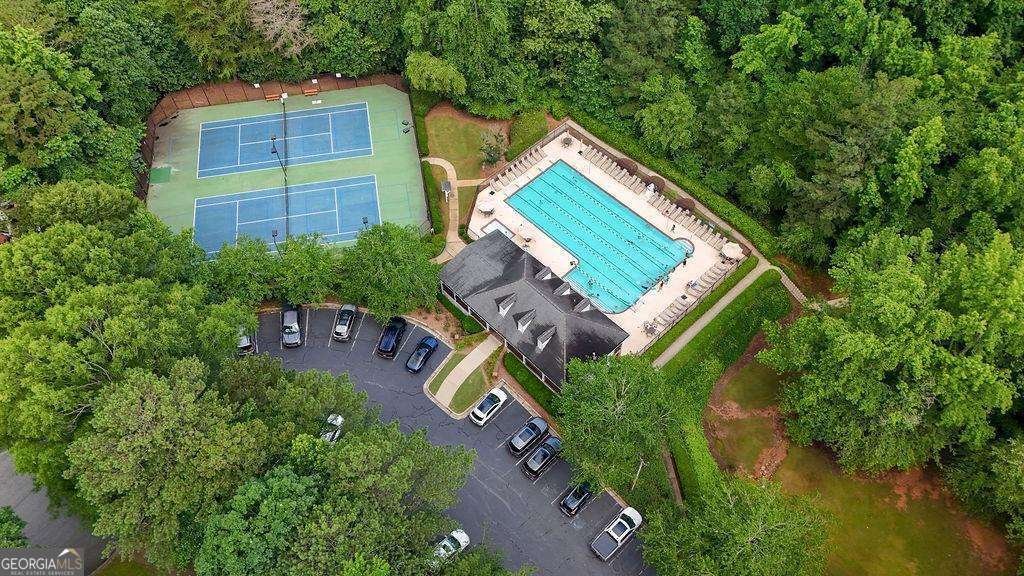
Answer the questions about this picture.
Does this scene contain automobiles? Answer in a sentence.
Yes, looking at the shot, I can spot an automobile.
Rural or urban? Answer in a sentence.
It looks rural.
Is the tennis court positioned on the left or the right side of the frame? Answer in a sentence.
It is on the left.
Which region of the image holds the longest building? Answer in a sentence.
The longest building appears toward the center of the photo.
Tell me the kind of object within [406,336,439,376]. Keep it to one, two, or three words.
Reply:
car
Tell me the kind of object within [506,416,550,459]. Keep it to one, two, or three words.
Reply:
car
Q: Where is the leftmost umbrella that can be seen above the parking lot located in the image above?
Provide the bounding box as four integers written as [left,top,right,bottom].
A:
[474,196,498,217]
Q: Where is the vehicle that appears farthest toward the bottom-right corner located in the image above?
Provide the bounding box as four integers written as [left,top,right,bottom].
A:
[588,504,646,565]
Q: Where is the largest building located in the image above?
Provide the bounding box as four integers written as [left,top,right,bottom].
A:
[439,233,629,398]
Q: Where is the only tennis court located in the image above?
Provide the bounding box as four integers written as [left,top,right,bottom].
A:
[136,84,431,293]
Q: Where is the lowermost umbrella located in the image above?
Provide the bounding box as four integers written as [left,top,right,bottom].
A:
[720,242,746,263]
